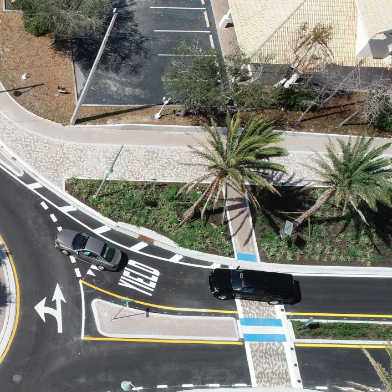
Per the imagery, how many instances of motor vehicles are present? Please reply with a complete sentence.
I count 2 motor vehicles.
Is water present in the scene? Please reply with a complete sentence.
No, there is no water in the image.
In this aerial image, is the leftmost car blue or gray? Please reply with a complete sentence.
The leftmost car looks gray in the image.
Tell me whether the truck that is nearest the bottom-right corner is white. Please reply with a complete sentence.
No, the color of the truck that is nearest the bottom-right corner is black.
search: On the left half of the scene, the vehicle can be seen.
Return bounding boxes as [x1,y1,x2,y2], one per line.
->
[55,229,122,271]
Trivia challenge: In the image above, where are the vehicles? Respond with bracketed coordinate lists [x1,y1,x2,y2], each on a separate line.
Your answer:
[55,229,122,271]
[207,266,294,305]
